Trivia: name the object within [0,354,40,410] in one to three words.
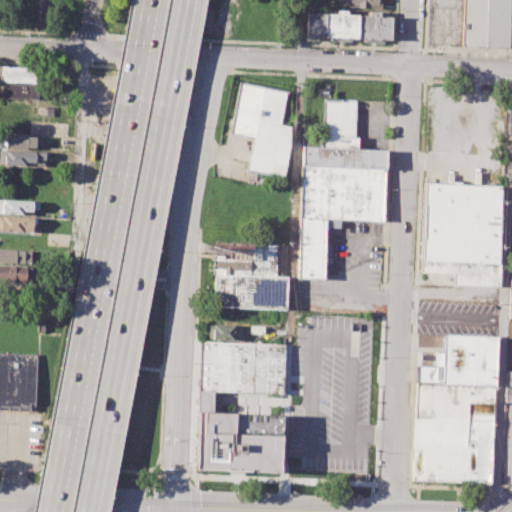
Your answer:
building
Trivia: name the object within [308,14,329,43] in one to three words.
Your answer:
house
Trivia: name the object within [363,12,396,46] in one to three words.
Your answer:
house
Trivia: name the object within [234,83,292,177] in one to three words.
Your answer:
building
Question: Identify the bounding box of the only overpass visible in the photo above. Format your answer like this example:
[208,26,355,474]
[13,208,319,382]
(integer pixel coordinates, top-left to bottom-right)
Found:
[36,0,210,512]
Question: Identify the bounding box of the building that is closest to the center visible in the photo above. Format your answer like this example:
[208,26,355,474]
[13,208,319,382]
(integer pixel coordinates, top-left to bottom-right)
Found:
[215,256,290,310]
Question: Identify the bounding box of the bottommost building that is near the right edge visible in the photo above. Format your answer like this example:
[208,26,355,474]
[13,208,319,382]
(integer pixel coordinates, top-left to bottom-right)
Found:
[416,336,500,482]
